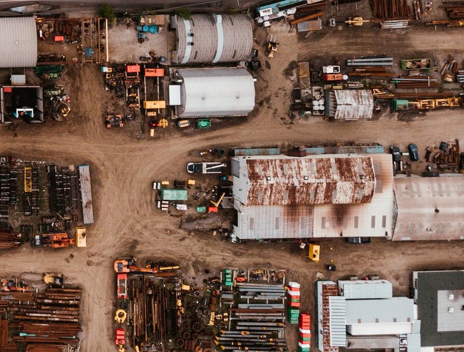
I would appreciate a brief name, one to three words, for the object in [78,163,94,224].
trailer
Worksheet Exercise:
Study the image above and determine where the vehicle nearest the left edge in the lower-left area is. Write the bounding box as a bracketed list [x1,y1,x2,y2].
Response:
[0,276,32,291]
